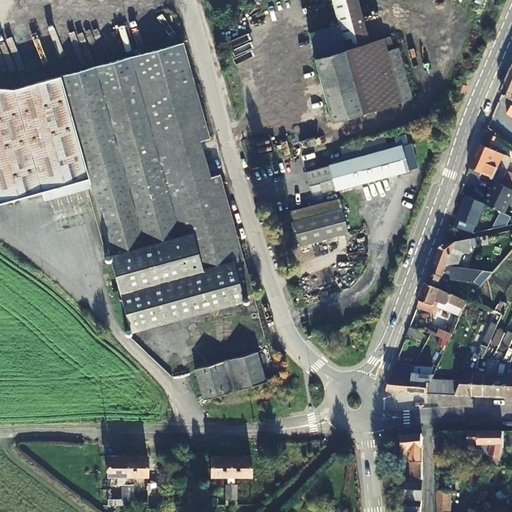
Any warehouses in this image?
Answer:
Yes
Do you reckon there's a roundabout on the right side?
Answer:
Yes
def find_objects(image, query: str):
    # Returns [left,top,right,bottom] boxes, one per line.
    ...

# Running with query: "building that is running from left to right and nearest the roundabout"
[386,378,428,398]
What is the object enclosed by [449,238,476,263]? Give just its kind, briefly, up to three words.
shed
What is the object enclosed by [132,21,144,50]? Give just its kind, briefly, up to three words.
vehicle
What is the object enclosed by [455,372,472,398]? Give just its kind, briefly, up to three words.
house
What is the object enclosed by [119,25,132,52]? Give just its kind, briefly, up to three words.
vehicle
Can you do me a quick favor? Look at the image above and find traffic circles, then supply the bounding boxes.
[300,350,398,440]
